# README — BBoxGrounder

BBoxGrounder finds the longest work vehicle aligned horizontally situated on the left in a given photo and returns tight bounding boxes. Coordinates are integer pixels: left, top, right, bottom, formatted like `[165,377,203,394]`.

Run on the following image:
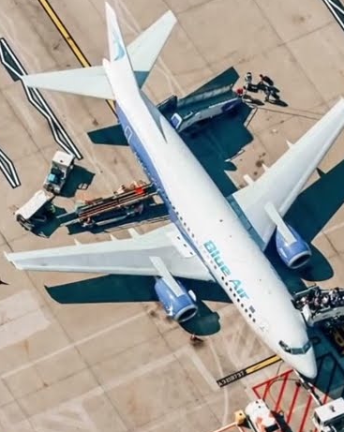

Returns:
[70,187,161,229]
